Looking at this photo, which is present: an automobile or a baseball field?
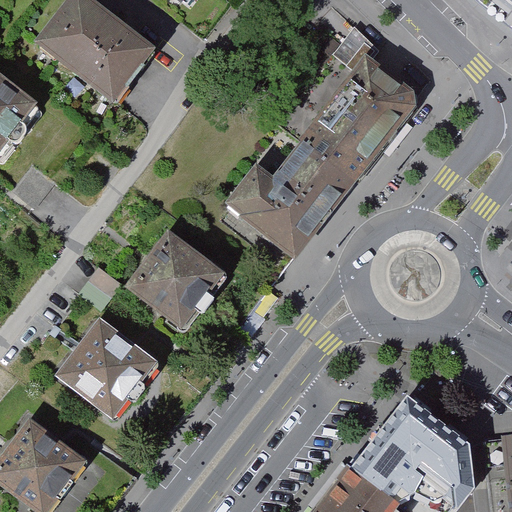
automobile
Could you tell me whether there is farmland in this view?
No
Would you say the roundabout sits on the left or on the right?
right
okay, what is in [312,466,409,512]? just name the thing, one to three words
building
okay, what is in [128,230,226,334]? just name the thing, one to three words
house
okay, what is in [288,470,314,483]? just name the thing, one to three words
vehicle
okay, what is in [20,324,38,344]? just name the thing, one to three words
car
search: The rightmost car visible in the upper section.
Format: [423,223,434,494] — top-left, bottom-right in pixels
[491,82,508,103]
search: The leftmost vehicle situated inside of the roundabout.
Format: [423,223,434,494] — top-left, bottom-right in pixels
[354,250,375,268]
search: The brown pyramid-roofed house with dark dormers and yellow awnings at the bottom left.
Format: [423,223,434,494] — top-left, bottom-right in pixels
[0,419,87,512]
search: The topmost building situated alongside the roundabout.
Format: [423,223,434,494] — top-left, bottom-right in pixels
[224,56,418,256]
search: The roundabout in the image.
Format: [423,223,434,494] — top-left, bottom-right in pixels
[349,210,481,342]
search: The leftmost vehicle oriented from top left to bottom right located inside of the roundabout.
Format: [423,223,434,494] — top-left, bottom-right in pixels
[437,232,457,250]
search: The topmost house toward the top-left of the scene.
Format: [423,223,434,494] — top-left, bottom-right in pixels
[36,0,155,107]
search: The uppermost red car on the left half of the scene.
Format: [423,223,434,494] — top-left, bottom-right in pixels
[154,51,172,68]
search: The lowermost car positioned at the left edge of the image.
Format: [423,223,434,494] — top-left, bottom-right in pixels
[0,344,20,366]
